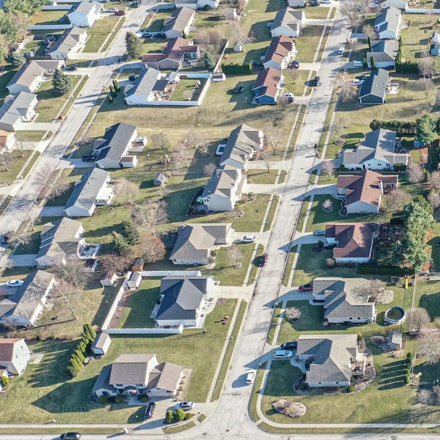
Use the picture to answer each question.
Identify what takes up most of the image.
grass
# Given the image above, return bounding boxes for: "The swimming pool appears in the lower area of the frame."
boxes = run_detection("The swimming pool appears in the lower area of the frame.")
[384,306,406,324]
